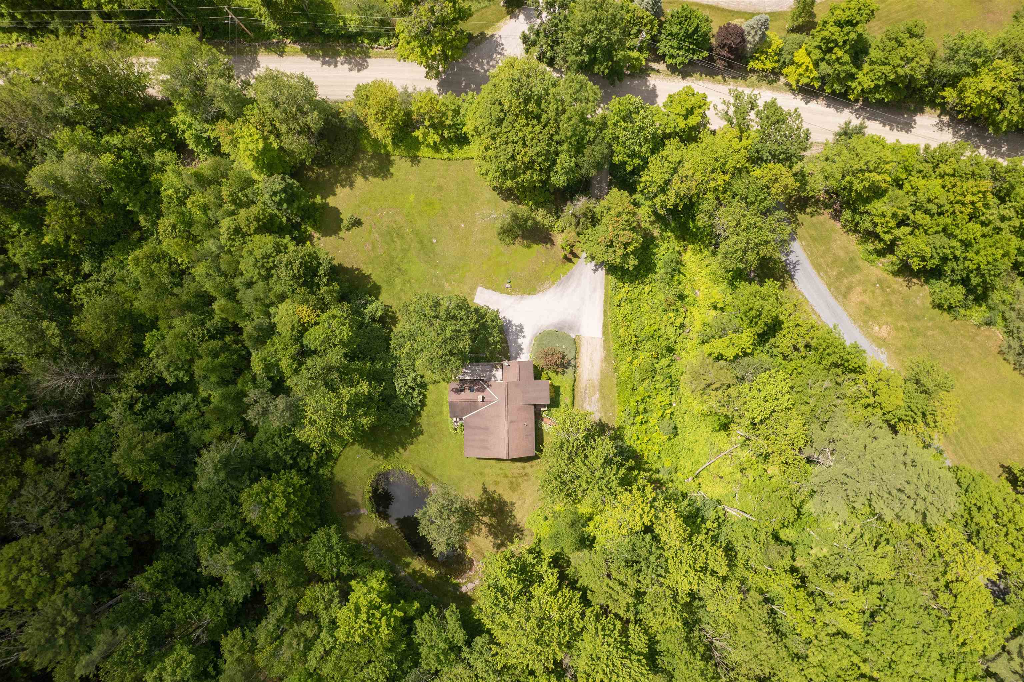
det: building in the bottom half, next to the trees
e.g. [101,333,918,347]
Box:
[449,360,558,459]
